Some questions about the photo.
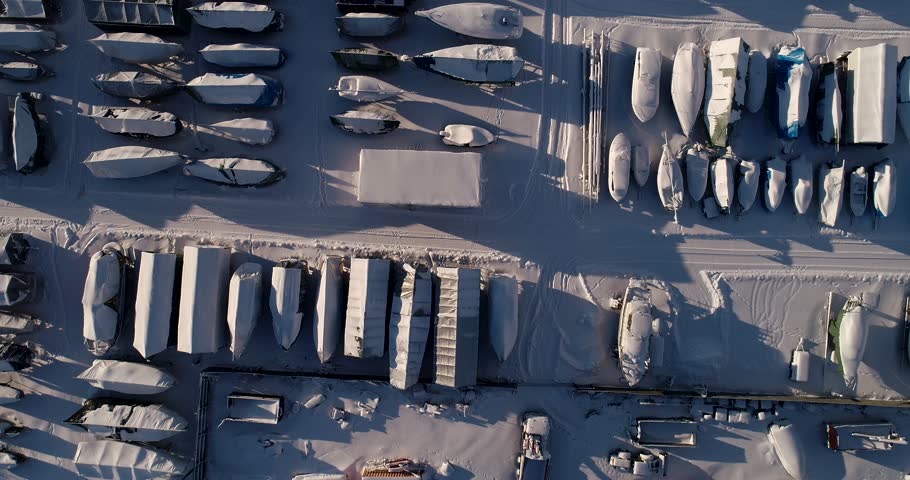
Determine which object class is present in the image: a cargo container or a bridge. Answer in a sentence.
Visible in the photo is a cargo container.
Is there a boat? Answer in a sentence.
Yes, you can see a boat in this photo.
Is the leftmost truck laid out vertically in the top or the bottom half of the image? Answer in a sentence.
The leftmost truck laid out vertically sits in the bottom half of the picture.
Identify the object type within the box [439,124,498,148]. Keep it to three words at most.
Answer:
boat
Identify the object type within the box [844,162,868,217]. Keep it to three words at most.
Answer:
boat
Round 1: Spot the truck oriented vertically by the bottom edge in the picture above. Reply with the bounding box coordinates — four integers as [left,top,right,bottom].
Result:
[516,415,552,480]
